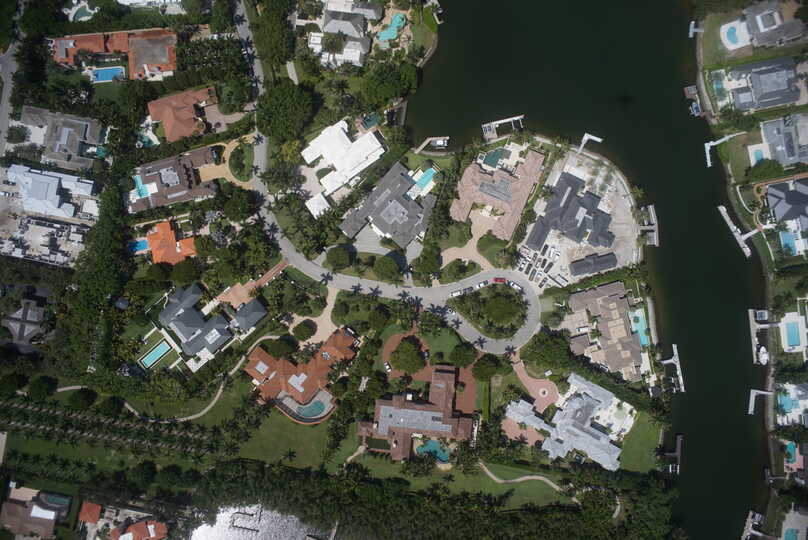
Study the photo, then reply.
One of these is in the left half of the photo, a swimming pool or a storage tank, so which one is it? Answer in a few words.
swimming pool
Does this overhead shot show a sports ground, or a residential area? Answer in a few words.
residential area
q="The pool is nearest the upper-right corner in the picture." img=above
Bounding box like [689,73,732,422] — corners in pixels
[726,25,739,44]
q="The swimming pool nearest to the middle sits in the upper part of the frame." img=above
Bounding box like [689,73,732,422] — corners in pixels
[416,167,438,189]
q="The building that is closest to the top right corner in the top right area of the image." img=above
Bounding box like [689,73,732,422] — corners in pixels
[741,0,803,48]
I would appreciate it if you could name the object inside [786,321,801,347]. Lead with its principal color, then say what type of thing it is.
blue swimming pool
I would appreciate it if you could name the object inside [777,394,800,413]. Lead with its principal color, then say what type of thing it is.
blue swimming pool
